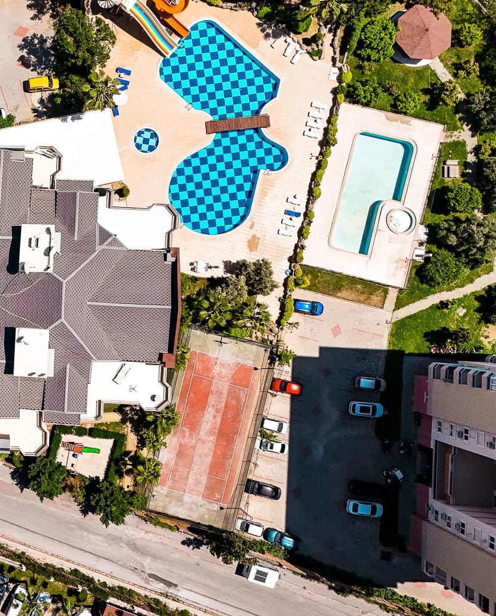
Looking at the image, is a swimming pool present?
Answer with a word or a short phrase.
Yes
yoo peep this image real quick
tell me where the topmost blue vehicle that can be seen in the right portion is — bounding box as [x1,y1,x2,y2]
[296,301,322,315]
